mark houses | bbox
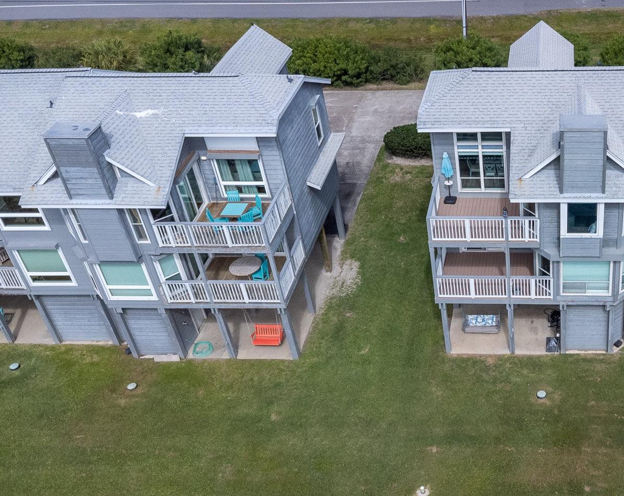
[20,25,349,358]
[416,20,624,353]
